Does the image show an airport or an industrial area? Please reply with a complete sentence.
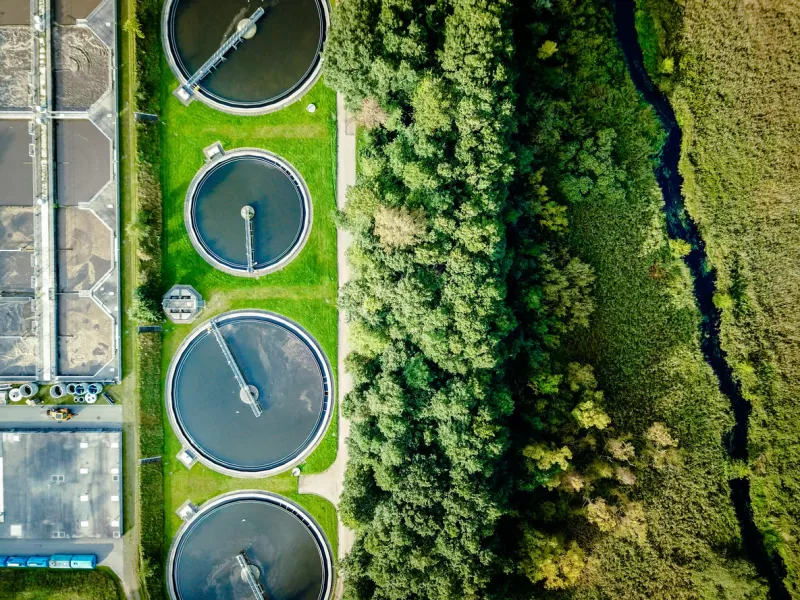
This image shows an industrial area.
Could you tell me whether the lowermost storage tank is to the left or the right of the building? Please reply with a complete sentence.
It is on the right side of the building that the lowermost storage tank is positioned.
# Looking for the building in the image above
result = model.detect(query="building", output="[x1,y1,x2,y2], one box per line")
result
[0,431,124,538]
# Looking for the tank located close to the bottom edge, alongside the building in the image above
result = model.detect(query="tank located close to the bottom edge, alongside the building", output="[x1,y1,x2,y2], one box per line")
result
[166,490,334,600]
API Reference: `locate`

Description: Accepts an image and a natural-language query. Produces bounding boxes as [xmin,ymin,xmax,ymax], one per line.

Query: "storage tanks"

[165,309,334,479]
[183,142,312,276]
[162,0,330,115]
[166,490,334,600]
